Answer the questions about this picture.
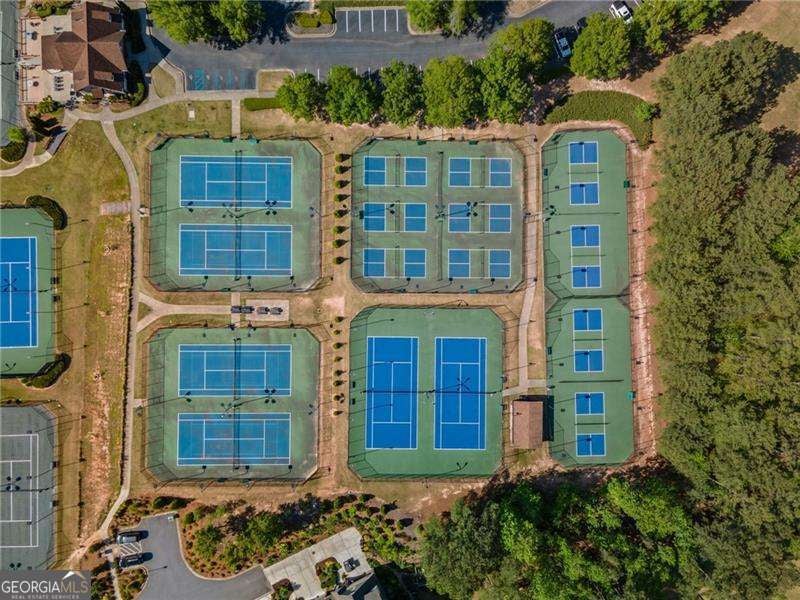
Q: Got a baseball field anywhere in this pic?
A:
No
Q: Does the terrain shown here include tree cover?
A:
Yes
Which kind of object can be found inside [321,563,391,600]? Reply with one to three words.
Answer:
house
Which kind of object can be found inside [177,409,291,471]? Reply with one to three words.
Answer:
tennis court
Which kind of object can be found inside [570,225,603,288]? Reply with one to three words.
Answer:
sports court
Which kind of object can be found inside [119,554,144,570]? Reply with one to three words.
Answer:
car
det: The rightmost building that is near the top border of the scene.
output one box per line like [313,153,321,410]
[41,0,132,104]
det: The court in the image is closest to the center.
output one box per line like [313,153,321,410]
[363,247,427,279]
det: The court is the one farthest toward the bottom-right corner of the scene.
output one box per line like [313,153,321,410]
[574,392,608,456]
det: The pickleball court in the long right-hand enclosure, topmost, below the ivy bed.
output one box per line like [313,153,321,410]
[569,142,602,205]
